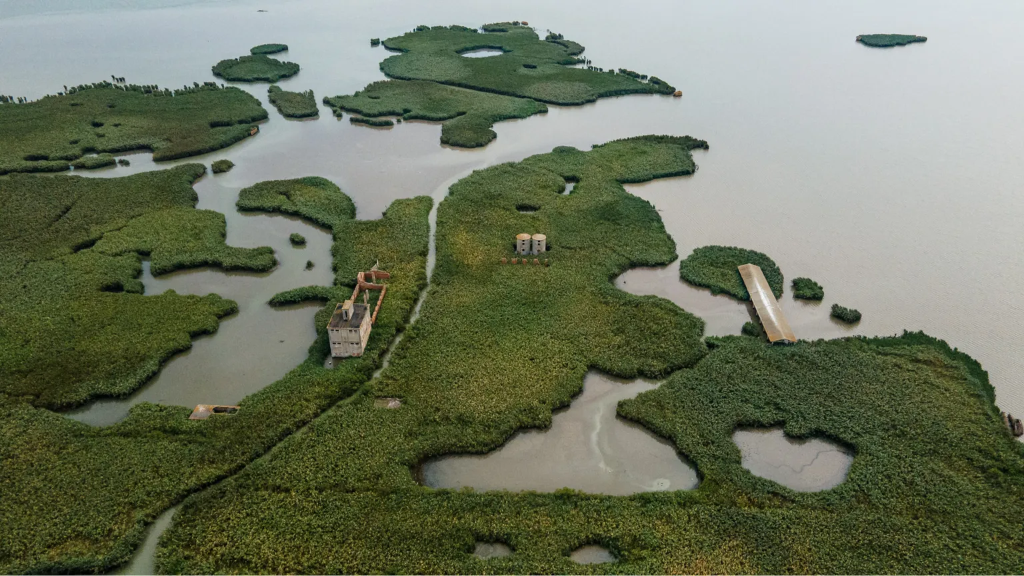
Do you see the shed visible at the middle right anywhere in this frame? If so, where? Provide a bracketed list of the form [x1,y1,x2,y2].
[737,263,797,349]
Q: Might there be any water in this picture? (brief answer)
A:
Yes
